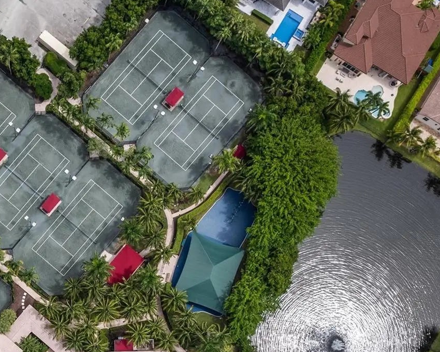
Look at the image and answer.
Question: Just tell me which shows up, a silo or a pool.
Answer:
pool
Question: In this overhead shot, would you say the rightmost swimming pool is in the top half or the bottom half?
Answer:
top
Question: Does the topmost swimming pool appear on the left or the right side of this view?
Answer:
right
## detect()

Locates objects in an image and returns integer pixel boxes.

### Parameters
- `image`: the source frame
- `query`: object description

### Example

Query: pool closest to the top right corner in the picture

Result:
[352,84,391,120]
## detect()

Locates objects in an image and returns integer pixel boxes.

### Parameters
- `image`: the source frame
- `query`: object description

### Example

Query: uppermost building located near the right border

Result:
[331,0,440,85]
